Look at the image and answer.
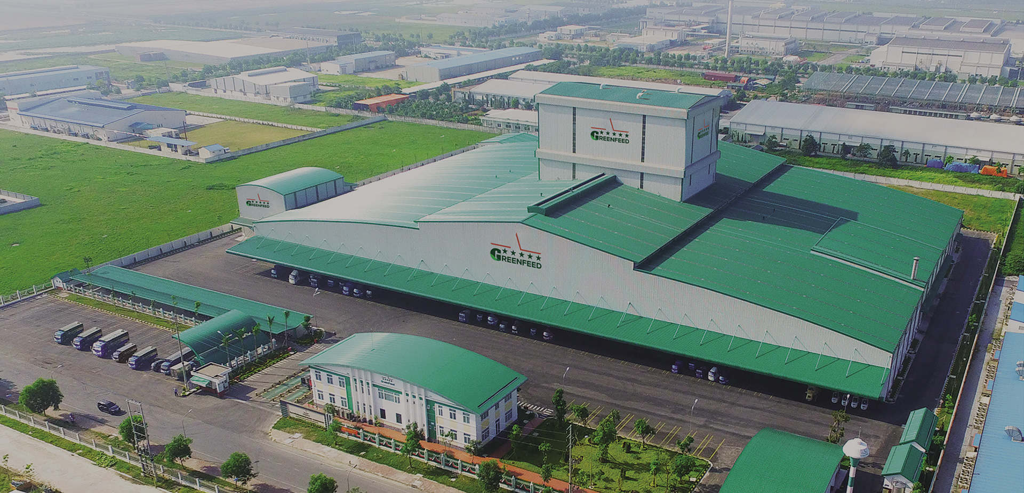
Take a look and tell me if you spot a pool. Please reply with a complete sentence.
No, the frame has no pool in it.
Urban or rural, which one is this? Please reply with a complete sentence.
The area shown here is urban.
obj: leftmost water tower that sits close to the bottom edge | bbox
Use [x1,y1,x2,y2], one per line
[840,431,872,493]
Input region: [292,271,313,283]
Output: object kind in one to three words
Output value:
vehicle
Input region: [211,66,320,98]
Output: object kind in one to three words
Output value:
building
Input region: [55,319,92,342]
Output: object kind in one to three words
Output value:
bus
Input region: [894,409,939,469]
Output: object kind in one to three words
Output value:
shed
